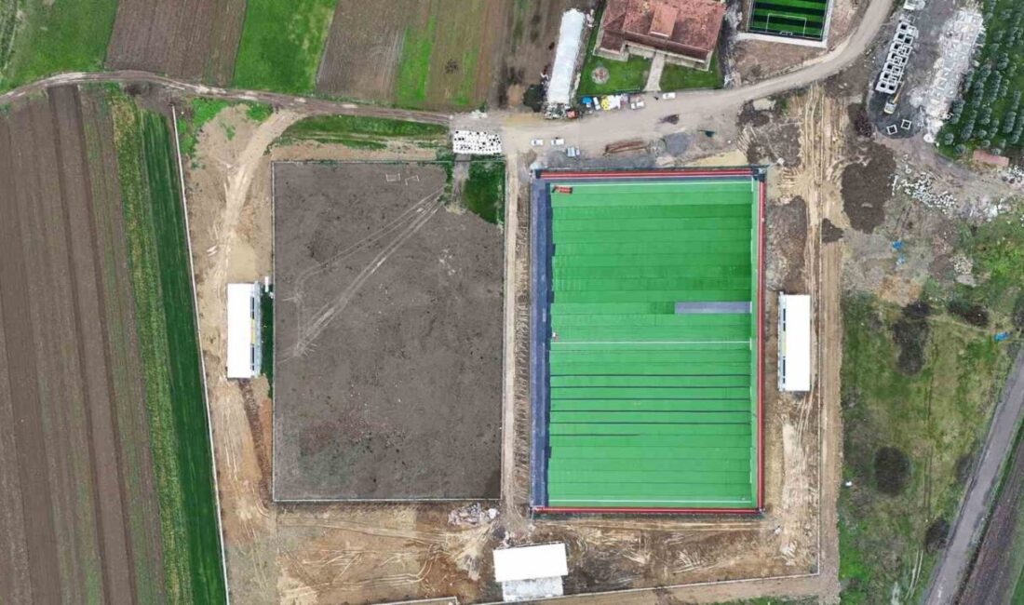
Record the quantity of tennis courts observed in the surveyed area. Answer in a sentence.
The picture shows no tennis courts.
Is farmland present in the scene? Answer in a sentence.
Yes, farmland can be seen from above here.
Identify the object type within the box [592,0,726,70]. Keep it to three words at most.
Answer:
house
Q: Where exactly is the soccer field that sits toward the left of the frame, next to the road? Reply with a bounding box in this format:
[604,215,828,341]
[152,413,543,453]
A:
[273,161,503,501]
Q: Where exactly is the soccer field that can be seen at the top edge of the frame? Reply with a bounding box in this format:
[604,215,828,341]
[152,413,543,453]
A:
[737,0,835,47]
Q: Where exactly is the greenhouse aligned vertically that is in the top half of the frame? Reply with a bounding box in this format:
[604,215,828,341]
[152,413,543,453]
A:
[547,6,585,105]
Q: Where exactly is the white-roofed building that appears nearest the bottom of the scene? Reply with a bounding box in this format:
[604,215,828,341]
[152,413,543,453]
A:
[493,540,568,602]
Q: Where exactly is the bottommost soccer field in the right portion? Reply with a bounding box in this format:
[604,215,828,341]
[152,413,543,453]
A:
[531,168,763,509]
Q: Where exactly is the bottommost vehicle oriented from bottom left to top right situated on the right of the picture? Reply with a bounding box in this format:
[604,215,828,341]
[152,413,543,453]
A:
[883,75,910,113]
